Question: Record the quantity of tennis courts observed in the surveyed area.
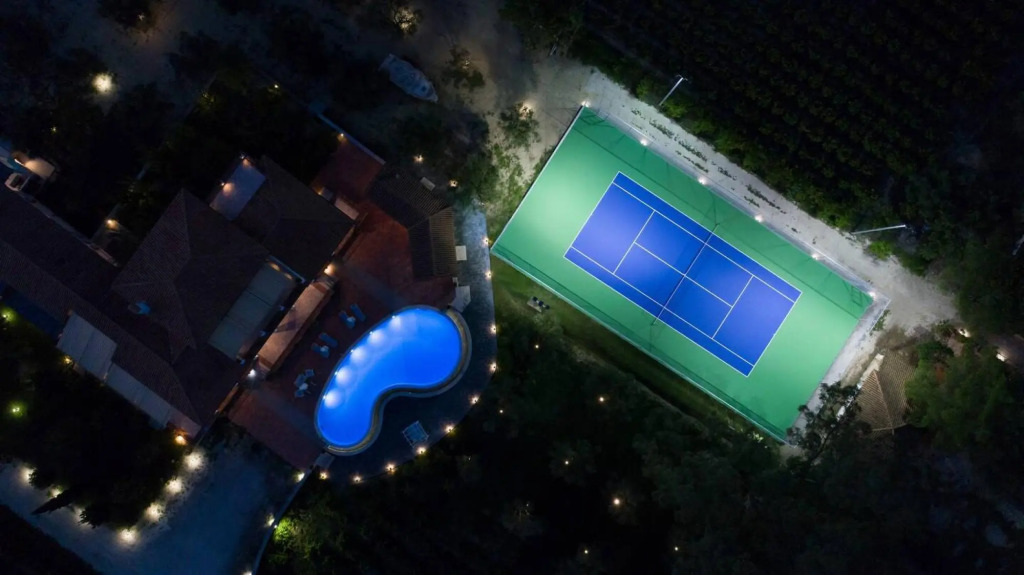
1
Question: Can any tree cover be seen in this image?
Yes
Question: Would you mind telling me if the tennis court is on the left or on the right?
right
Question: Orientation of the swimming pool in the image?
on a diagonal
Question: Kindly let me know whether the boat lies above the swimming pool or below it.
above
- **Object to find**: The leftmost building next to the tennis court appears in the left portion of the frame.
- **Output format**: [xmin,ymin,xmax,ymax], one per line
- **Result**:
[0,155,361,438]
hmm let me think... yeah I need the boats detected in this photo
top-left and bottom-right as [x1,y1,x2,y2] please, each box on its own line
[379,57,438,101]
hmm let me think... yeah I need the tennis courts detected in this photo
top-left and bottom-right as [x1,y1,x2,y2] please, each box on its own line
[486,103,880,445]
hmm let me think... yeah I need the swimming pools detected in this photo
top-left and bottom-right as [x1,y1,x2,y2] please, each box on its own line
[315,305,471,457]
